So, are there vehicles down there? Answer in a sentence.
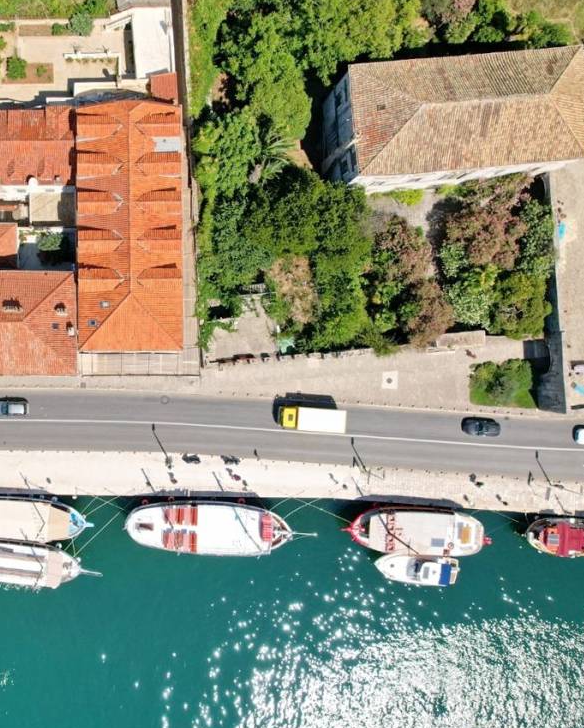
Yes, there's a vehicle down there.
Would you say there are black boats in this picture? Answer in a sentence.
No, the picture doesn't show any black boat.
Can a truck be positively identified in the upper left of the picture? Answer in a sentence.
No, no truck is visible in the upper left of the picture.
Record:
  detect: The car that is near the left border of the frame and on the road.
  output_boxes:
[0,398,29,417]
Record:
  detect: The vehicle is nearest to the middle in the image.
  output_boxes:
[277,405,348,433]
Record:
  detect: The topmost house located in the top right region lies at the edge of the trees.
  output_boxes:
[326,44,584,194]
